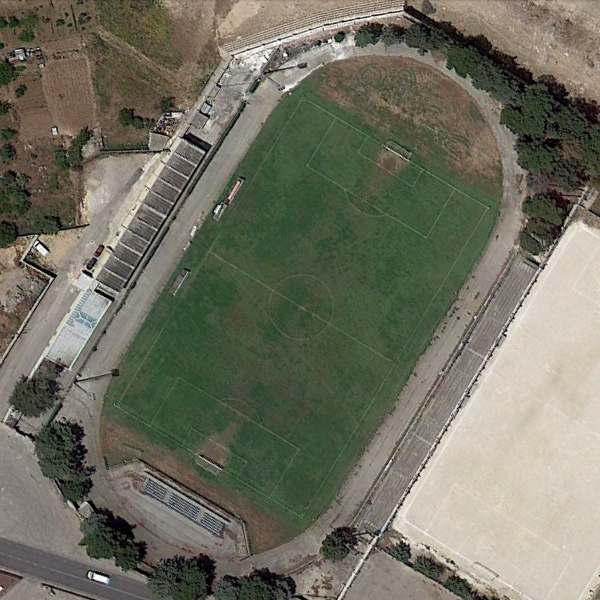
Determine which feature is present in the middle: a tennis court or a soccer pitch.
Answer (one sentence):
There is a soccer pitch in the middle.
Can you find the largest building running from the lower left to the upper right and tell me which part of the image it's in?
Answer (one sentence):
The largest building running from the lower left to the upper right is located in the left region of the scene.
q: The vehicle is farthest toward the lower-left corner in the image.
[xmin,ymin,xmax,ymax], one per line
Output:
[89,571,108,584]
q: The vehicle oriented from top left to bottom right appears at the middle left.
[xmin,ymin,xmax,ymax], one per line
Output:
[32,240,50,257]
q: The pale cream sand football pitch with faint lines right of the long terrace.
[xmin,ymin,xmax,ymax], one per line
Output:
[385,222,600,600]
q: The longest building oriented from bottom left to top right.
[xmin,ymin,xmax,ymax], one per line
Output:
[44,287,112,370]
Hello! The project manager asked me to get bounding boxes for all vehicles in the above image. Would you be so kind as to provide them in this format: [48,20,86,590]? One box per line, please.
[93,243,104,258]
[86,256,97,271]
[32,240,50,257]
[89,571,108,584]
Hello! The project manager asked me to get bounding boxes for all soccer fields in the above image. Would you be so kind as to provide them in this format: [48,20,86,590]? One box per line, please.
[385,222,600,600]
[101,53,503,556]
